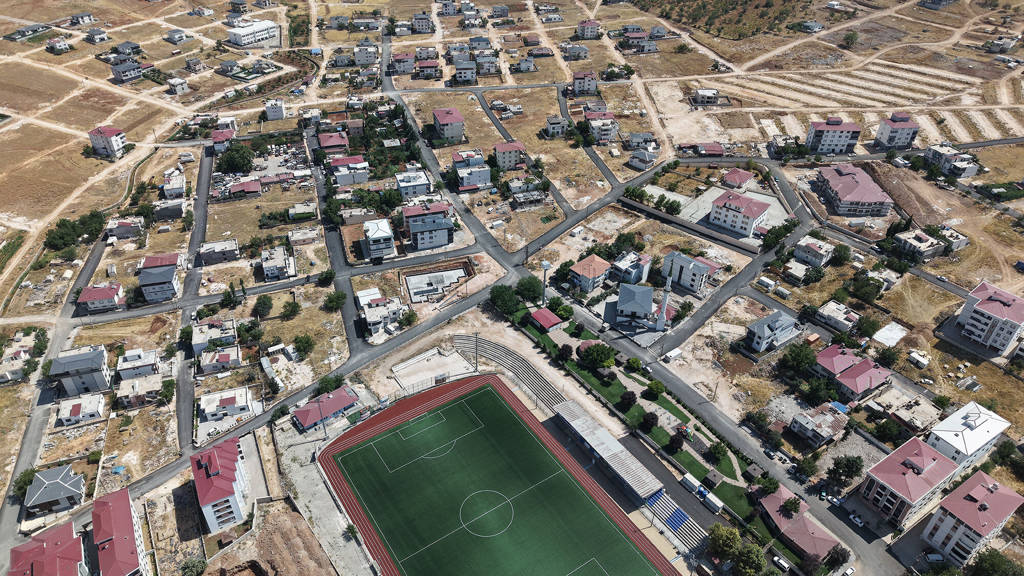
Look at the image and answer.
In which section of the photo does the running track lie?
bottom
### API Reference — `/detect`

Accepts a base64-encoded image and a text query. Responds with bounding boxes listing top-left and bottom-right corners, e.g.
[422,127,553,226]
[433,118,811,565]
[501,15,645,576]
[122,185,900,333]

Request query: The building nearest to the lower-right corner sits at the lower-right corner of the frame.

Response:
[923,471,1024,564]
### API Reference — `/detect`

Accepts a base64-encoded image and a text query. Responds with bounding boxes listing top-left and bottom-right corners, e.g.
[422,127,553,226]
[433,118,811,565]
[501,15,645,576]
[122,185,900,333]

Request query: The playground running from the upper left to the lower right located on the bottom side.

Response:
[671,424,714,462]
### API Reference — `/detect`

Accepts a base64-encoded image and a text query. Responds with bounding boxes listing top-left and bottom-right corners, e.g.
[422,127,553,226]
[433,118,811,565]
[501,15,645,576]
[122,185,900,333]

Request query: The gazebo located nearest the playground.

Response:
[704,469,725,488]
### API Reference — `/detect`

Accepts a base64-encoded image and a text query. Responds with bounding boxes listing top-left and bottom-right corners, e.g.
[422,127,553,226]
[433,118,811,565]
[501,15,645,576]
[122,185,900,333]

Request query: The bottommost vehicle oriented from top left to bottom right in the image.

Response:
[772,555,790,572]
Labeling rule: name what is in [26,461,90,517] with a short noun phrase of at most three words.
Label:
house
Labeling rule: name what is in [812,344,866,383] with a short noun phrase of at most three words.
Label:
building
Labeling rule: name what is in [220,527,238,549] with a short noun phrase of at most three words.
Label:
gazebo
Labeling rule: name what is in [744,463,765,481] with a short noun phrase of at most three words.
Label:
gazebo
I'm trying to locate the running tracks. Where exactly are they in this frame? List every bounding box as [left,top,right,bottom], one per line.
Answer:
[317,375,686,576]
